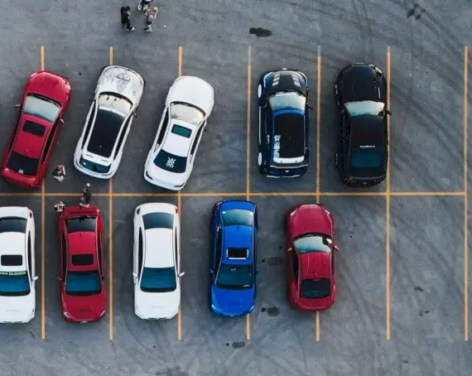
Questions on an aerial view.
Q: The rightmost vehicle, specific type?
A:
car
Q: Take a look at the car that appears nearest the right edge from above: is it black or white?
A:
black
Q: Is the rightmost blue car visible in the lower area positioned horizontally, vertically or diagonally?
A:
vertically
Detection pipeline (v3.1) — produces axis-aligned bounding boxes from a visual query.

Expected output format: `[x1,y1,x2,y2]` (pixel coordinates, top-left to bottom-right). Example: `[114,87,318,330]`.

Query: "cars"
[258,70,315,176]
[130,203,187,320]
[145,74,214,195]
[75,64,143,181]
[286,204,344,312]
[208,202,265,317]
[0,207,42,324]
[1,69,69,191]
[333,63,392,190]
[56,207,113,323]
